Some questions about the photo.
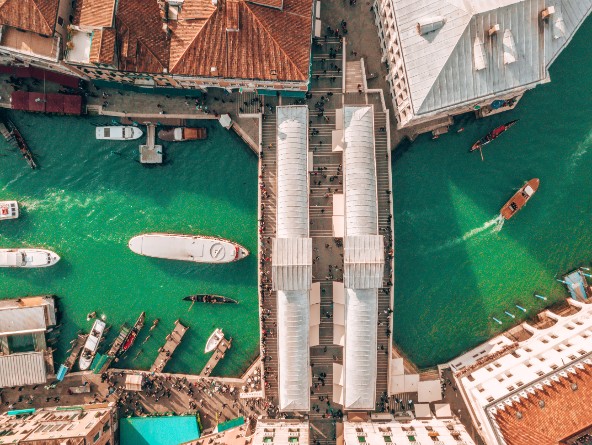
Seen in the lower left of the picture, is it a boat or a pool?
boat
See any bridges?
Yes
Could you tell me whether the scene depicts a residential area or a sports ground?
residential area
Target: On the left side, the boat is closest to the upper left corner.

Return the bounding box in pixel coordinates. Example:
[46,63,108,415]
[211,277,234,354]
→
[5,117,34,169]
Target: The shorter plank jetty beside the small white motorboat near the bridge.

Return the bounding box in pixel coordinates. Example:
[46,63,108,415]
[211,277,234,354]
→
[202,338,232,376]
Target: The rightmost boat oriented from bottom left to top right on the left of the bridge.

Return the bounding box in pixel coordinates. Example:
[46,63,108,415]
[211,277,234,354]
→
[205,328,224,353]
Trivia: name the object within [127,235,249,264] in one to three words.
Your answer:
ship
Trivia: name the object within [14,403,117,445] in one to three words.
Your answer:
house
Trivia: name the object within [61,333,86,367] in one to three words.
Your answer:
pier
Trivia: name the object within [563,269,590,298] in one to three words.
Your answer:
pier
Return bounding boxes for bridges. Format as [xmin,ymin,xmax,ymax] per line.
[258,85,395,416]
